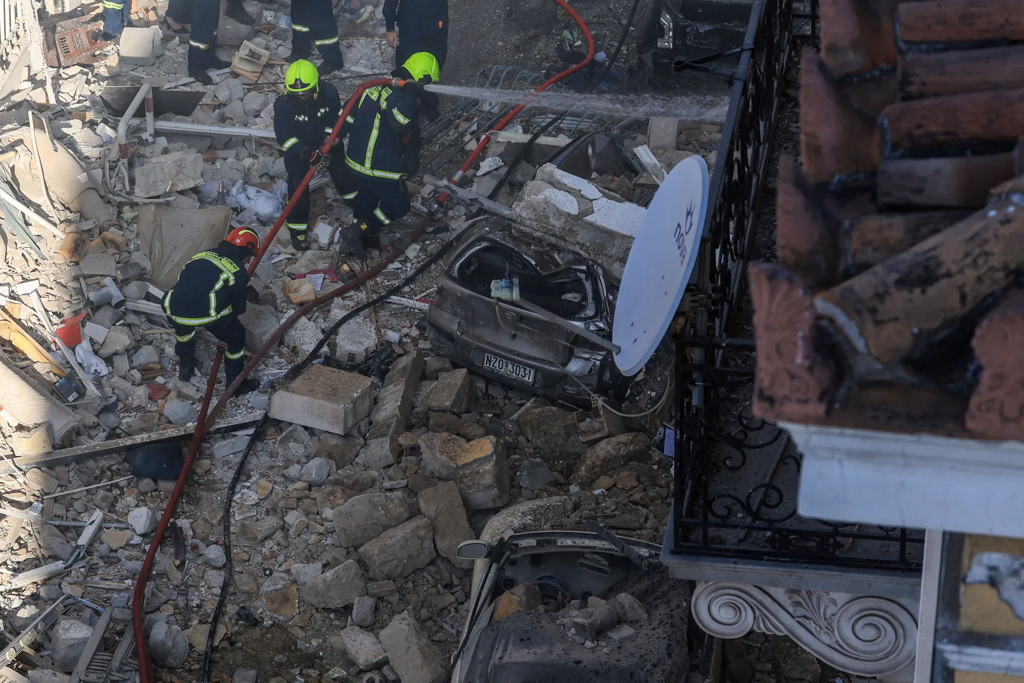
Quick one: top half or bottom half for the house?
bottom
